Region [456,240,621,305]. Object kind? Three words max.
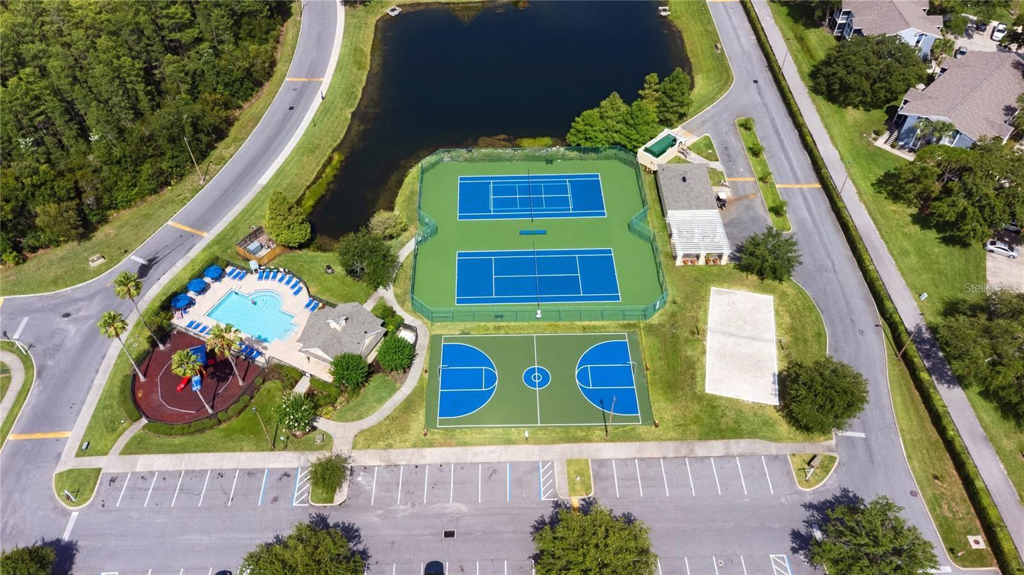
tennis court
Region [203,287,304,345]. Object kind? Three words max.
swimming pool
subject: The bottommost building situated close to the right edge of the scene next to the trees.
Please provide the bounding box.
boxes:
[874,49,1024,162]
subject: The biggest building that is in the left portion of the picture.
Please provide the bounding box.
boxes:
[296,302,387,369]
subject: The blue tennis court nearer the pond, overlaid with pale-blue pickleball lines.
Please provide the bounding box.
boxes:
[458,168,606,222]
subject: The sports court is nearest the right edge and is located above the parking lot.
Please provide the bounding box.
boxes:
[706,287,778,403]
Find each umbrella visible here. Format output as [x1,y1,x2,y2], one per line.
[202,265,226,285]
[169,293,195,314]
[185,278,210,298]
